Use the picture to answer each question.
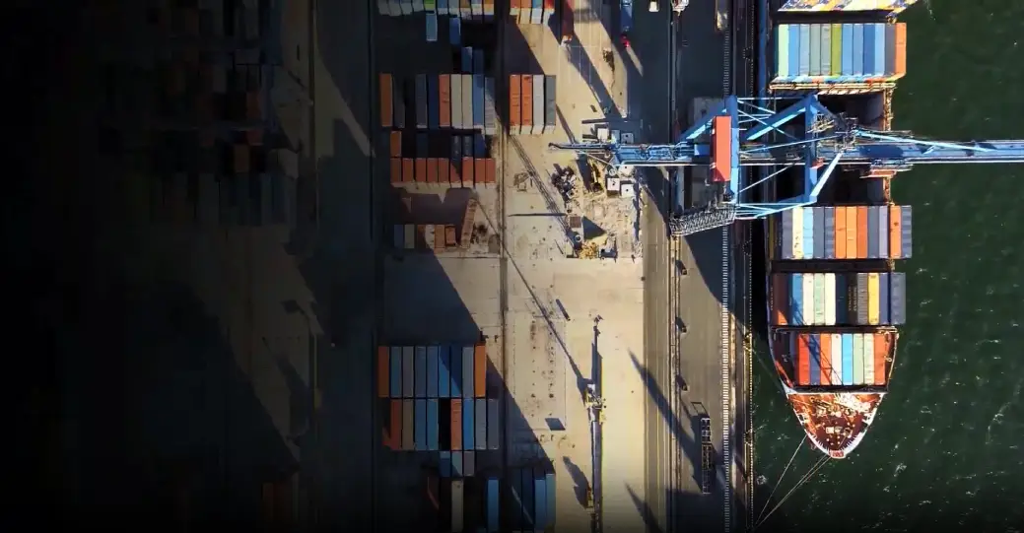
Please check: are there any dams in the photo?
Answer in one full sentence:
No, I can see no dam in this picture.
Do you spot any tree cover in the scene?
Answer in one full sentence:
No, tree cover can't be seen anywhere here.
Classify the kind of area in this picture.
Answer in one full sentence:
The picture captures a port.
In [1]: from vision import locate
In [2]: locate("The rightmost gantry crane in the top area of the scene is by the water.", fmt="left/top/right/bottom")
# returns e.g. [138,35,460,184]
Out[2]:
[552,89,1024,237]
